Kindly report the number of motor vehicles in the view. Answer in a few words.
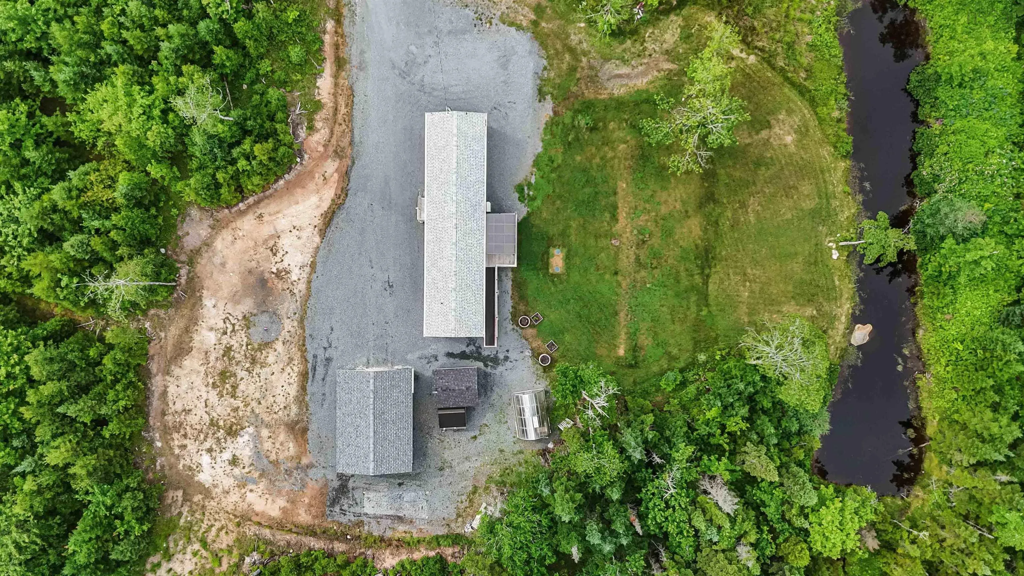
0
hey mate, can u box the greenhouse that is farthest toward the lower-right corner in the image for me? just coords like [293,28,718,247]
[512,389,550,441]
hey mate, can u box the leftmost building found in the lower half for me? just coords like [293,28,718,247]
[337,367,416,478]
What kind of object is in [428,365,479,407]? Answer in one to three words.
shed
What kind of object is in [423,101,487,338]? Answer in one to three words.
house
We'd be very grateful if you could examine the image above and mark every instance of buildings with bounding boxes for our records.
[423,101,487,338]
[512,389,550,441]
[337,367,416,478]
[428,365,479,407]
